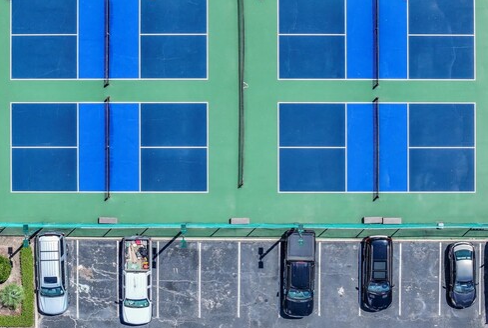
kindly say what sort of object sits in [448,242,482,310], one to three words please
car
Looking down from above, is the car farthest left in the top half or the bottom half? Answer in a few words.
bottom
